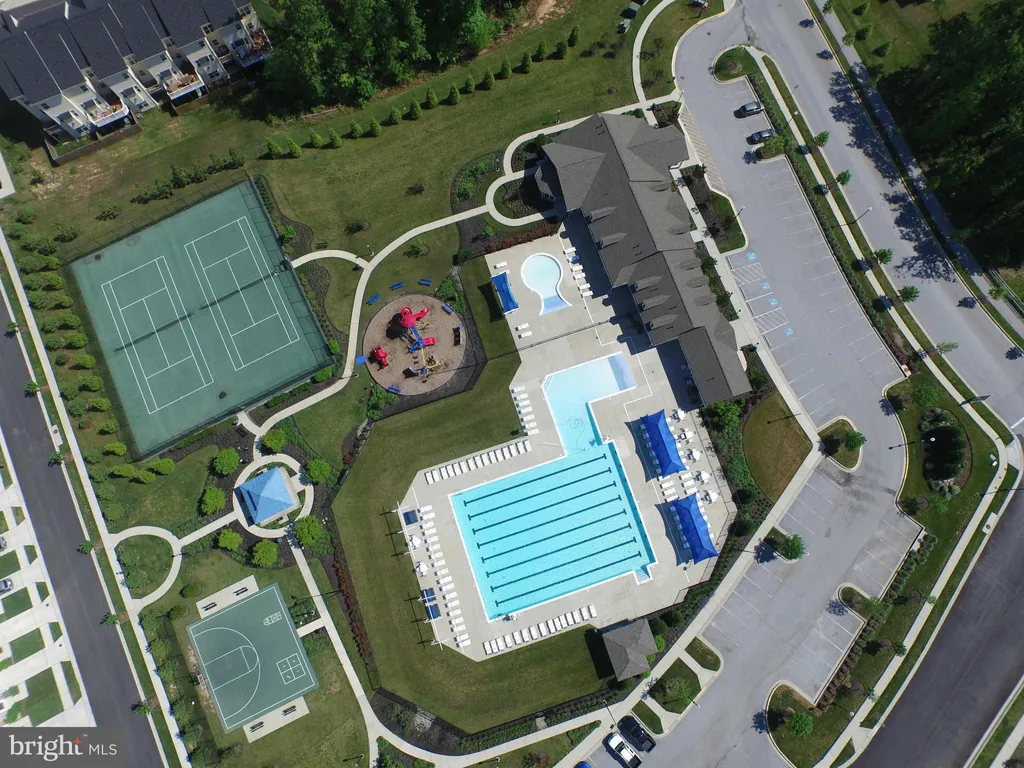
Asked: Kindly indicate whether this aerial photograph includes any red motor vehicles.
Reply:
No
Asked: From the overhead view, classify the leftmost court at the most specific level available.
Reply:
tennis court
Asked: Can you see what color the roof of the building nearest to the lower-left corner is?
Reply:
blue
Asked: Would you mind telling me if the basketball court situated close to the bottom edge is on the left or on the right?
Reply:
left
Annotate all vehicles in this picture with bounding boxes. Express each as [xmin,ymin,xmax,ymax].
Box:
[747,128,778,147]
[0,576,17,594]
[0,535,14,552]
[617,711,659,758]
[733,99,765,119]
[602,728,642,768]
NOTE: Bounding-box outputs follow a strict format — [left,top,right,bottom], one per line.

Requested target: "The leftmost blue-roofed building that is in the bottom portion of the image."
[238,466,301,527]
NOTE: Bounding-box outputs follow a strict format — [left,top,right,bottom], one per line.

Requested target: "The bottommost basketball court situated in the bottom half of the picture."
[186,583,319,735]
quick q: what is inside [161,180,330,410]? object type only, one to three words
tennis court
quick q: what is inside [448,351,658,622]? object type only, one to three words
swimming pool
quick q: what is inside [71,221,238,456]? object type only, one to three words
tennis court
